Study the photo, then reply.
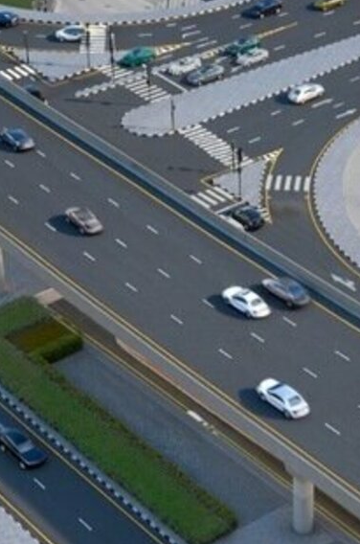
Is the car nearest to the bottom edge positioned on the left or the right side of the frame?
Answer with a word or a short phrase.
left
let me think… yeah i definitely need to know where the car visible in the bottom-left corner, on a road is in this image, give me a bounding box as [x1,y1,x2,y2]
[0,430,45,468]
